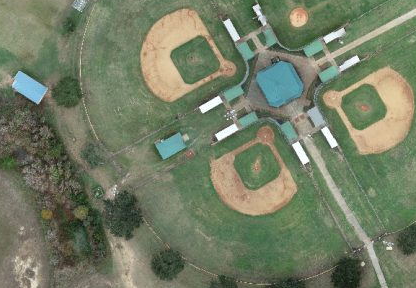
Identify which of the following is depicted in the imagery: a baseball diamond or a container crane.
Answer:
baseball diamond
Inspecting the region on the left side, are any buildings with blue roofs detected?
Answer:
Yes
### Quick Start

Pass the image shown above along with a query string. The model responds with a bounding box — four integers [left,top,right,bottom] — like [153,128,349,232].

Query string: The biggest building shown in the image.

[256,61,303,107]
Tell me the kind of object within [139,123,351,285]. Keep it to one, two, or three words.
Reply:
baseball field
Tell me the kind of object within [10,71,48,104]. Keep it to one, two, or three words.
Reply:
building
